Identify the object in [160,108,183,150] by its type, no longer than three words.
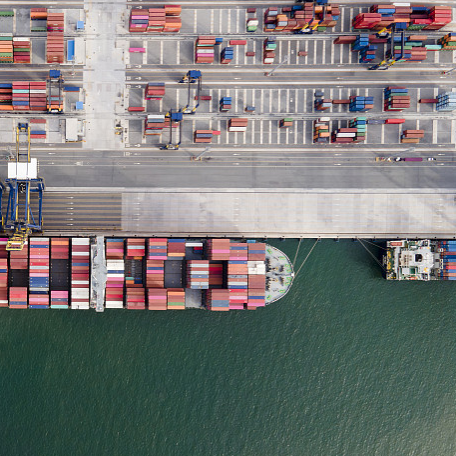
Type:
container crane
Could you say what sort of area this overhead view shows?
port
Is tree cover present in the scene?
No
